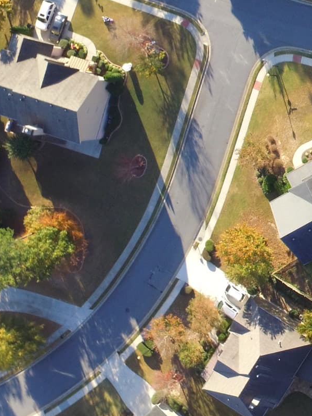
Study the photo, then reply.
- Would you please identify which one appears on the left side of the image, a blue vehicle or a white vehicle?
white vehicle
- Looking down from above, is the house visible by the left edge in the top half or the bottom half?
top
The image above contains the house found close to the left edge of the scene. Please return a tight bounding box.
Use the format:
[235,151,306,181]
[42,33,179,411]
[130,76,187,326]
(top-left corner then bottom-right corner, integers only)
[0,35,113,140]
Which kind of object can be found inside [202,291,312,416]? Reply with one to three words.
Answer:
house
